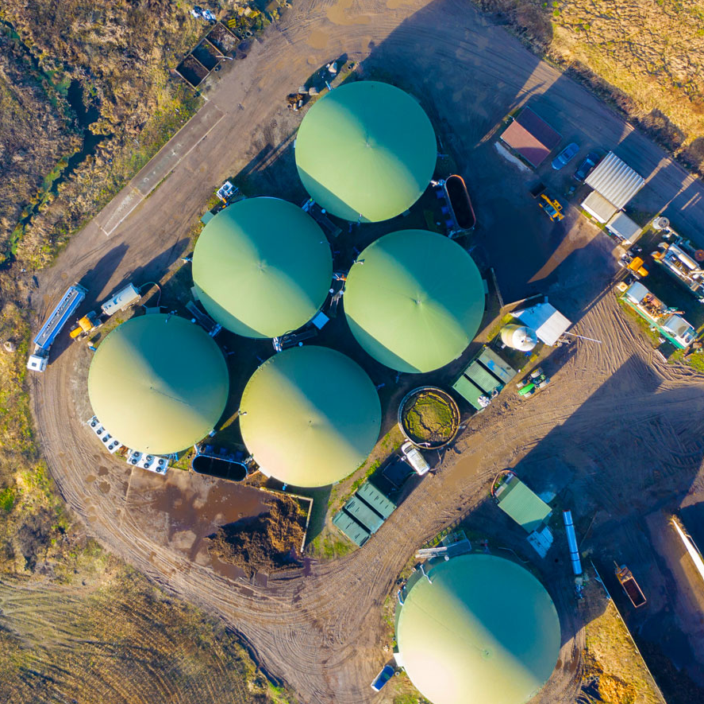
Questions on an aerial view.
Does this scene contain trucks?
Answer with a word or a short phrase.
Yes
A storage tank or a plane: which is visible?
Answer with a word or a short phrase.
storage tank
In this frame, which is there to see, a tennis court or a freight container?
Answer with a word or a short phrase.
freight container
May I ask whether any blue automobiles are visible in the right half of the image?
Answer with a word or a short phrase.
Yes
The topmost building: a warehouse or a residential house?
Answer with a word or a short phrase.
residential house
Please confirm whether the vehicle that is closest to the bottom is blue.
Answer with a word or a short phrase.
Yes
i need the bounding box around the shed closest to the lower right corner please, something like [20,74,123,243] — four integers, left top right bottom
[486,464,550,532]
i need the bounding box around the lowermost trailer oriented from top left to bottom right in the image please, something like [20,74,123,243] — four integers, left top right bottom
[614,560,650,610]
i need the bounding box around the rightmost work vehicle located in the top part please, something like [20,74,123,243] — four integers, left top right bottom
[621,251,653,284]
